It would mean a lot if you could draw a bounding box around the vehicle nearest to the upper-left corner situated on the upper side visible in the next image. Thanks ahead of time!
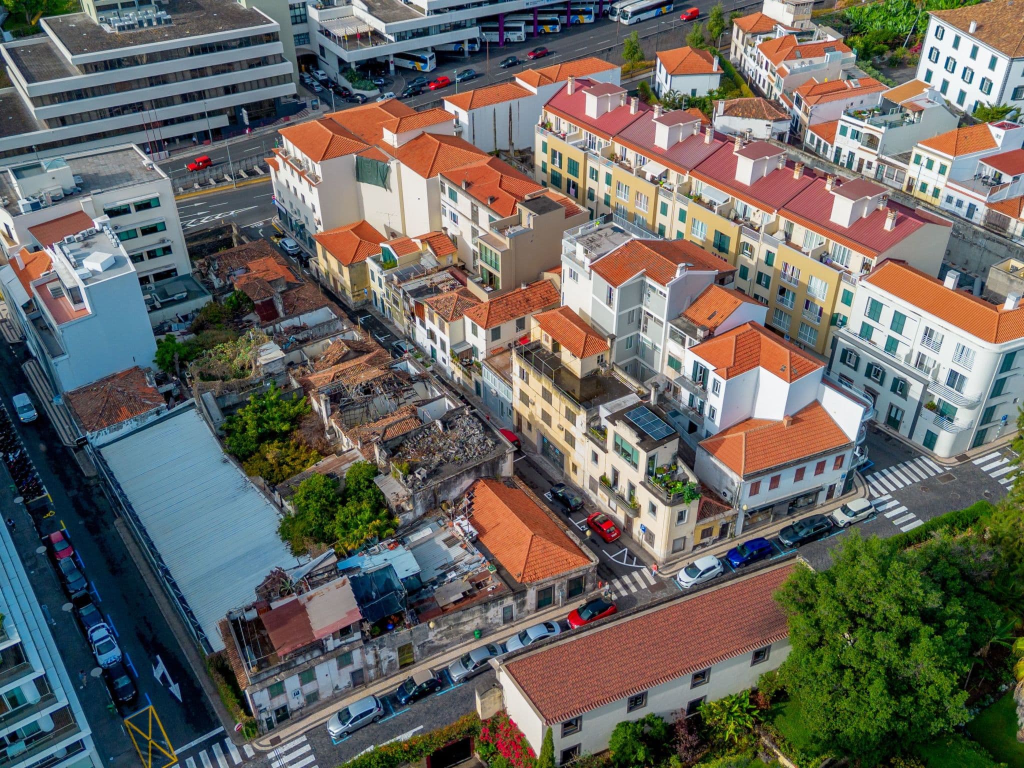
[183,149,217,168]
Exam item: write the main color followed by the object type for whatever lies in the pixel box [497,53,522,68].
black car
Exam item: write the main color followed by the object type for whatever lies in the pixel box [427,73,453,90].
red car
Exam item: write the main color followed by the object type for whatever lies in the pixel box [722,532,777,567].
blue car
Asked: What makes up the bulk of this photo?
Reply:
buildings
